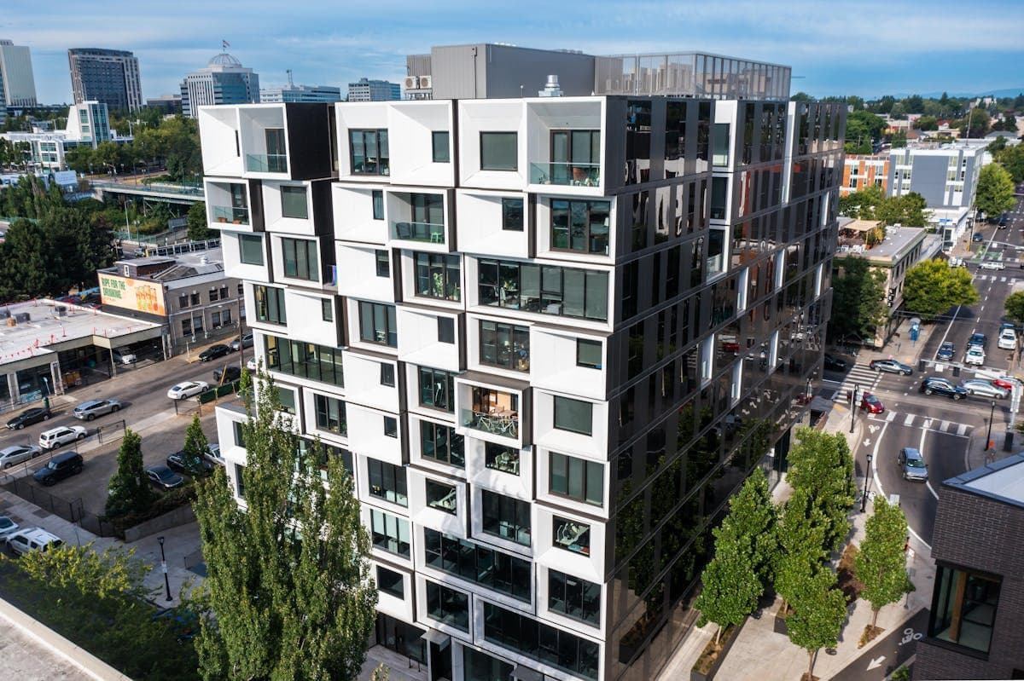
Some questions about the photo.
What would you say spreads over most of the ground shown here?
buildings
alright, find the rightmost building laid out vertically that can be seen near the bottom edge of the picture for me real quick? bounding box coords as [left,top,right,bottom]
[916,450,1024,681]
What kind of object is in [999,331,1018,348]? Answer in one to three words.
vehicle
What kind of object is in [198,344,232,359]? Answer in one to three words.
car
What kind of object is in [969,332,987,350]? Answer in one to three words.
vehicle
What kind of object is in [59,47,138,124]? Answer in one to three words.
building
